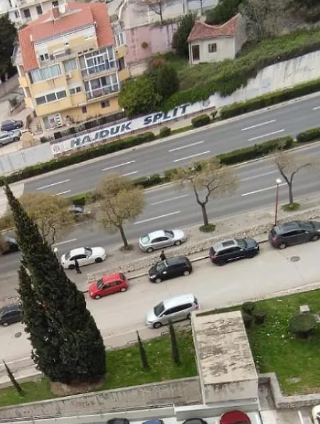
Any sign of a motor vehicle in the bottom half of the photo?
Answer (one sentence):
Yes, in the bottom half of the photo there is a motor vehicle.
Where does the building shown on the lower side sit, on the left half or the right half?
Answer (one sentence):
The building shown on the lower side appears in the right half of the scene.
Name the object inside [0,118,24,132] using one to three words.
vehicle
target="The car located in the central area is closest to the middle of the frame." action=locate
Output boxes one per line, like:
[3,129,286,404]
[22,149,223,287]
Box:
[139,229,187,251]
